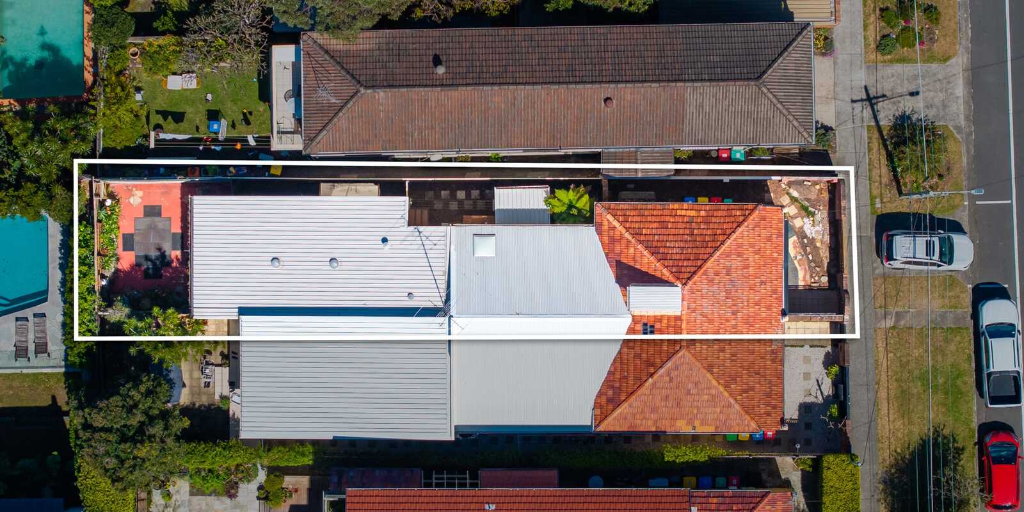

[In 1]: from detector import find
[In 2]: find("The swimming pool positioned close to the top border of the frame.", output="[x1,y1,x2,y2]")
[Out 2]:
[0,0,83,97]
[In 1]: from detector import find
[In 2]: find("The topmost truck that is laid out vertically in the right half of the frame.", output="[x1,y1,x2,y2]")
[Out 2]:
[977,296,1024,407]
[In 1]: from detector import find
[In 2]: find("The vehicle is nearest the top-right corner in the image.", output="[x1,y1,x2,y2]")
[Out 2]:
[879,228,974,273]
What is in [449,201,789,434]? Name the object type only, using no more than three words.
house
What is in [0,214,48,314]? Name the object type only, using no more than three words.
swimming pool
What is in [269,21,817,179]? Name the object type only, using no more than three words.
building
